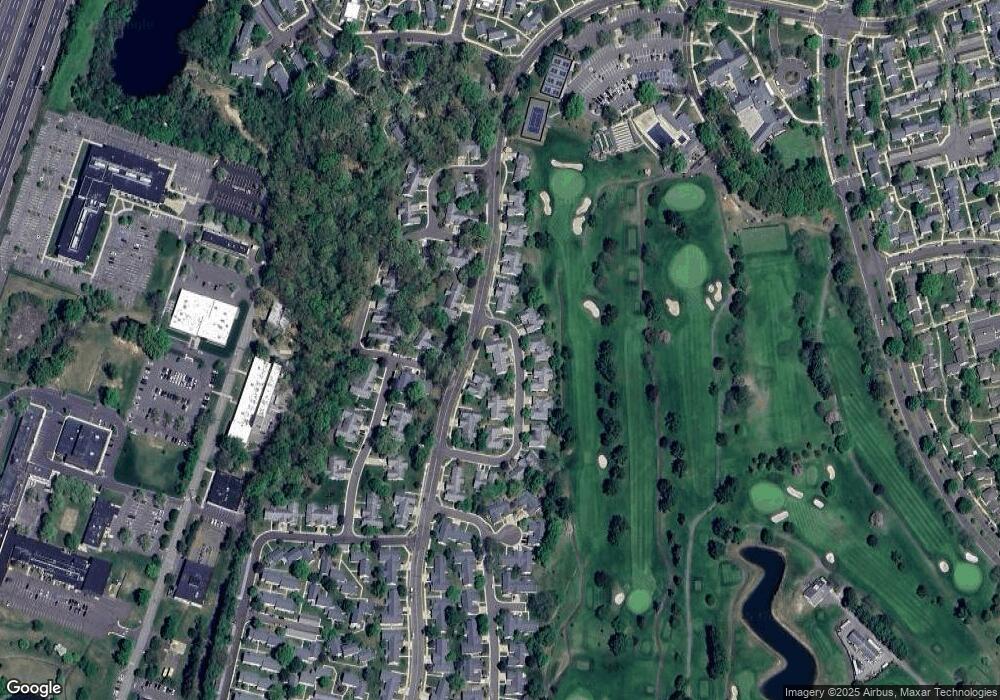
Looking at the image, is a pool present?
Yes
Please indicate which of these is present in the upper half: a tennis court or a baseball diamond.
tennis court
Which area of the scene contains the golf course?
right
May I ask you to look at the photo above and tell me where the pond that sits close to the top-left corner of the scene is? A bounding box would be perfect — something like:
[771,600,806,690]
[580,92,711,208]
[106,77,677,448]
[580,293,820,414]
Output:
[112,0,205,97]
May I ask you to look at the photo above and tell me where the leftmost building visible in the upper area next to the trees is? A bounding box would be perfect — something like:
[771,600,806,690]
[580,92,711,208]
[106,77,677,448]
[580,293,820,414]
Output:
[58,144,175,265]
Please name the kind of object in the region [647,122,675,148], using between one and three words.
swimming pool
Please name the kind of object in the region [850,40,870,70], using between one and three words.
house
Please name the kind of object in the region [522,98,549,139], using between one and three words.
tennis court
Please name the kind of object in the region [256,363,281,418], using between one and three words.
building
